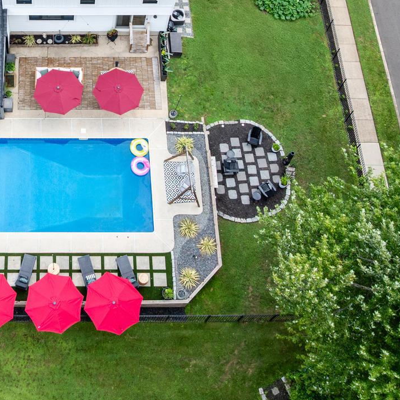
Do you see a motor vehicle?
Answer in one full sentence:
No, the scene contains no motor vehicle.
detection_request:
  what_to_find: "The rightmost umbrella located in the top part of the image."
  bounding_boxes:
[91,71,144,118]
